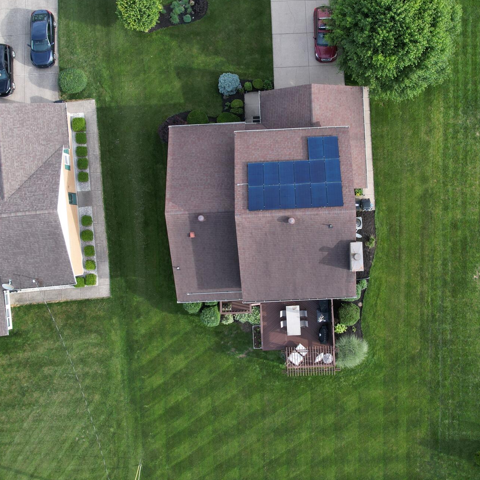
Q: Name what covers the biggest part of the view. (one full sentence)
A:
The bulk of the photo consists of grass.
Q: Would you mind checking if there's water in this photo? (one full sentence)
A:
No, there's no water in this view.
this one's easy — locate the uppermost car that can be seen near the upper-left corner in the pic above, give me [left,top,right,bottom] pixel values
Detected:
[25,10,57,70]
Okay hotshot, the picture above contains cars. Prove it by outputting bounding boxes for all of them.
[311,5,339,63]
[0,42,17,98]
[25,10,57,70]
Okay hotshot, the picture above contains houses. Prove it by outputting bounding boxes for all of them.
[0,102,85,336]
[164,84,369,305]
